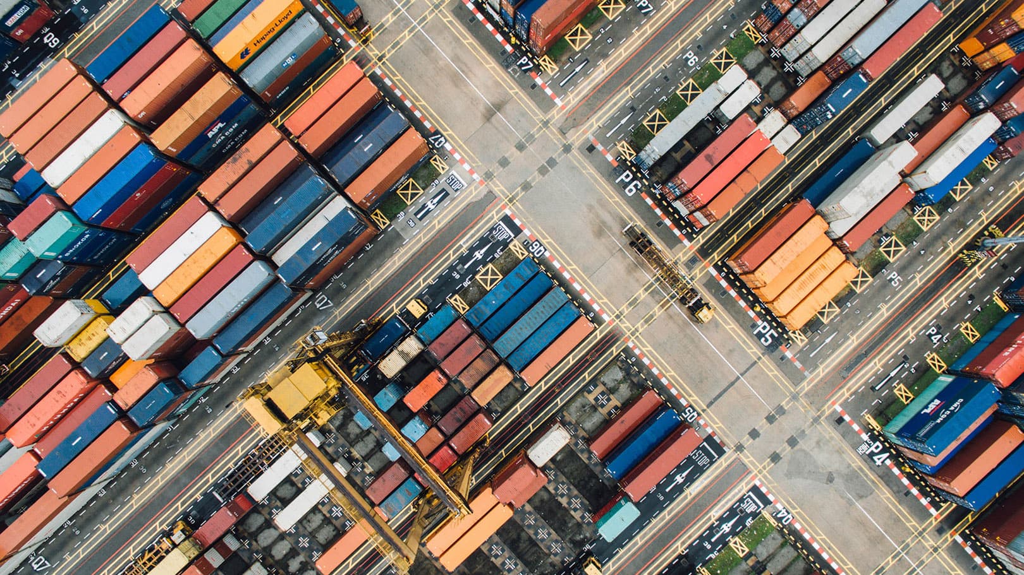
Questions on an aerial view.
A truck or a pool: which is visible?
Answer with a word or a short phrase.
truck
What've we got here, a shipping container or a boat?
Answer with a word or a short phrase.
shipping container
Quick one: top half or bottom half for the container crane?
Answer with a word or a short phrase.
bottom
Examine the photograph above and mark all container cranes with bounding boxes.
[233,309,490,575]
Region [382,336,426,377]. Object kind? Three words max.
shipping container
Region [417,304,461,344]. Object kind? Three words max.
shipping container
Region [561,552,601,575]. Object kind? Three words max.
truck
